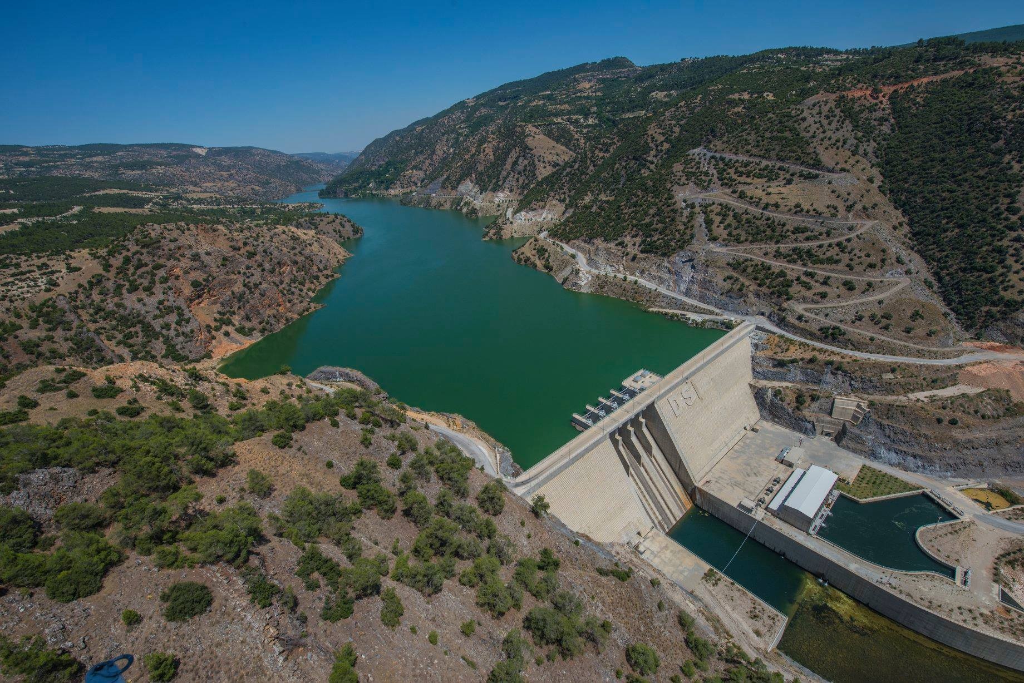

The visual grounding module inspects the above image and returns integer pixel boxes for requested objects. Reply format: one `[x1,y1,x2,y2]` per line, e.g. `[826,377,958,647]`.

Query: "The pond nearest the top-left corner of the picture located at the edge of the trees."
[218,182,727,470]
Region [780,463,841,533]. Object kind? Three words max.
building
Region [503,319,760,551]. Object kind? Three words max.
dam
